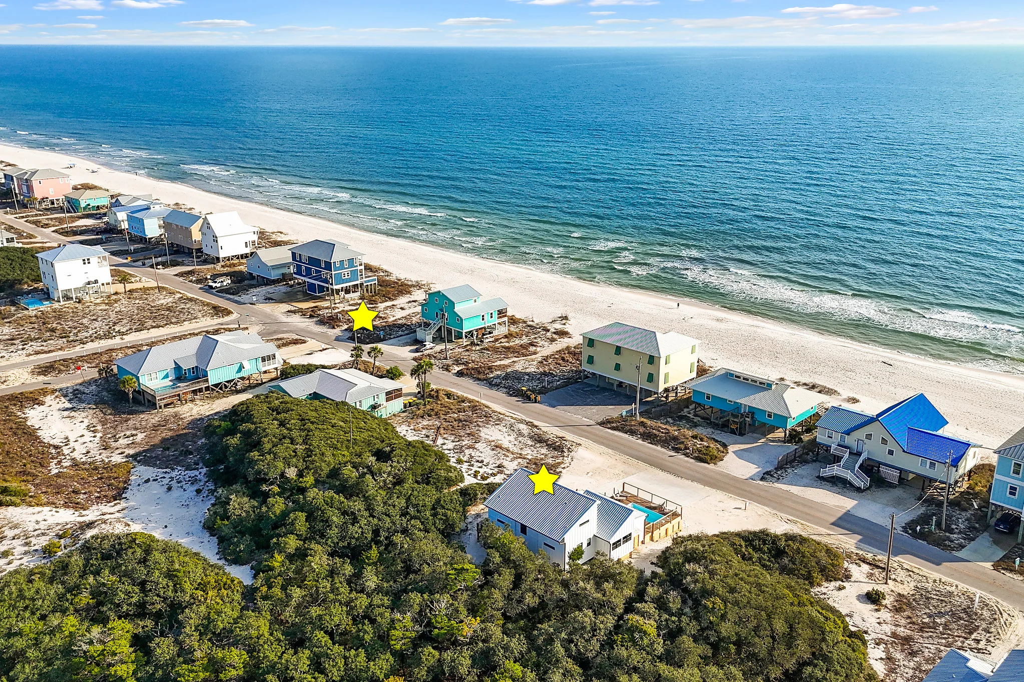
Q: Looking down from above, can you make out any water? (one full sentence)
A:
Yes, water shows up in the scene.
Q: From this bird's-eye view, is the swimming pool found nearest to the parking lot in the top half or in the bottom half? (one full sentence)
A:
The bottom half of the photo is where the swimming pool found nearest to the parking lot is.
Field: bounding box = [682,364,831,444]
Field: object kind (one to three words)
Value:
house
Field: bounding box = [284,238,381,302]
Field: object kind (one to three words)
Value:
house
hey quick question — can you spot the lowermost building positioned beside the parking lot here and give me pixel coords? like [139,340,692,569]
[484,462,683,568]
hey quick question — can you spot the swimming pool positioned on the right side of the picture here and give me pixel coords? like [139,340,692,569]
[625,502,661,523]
